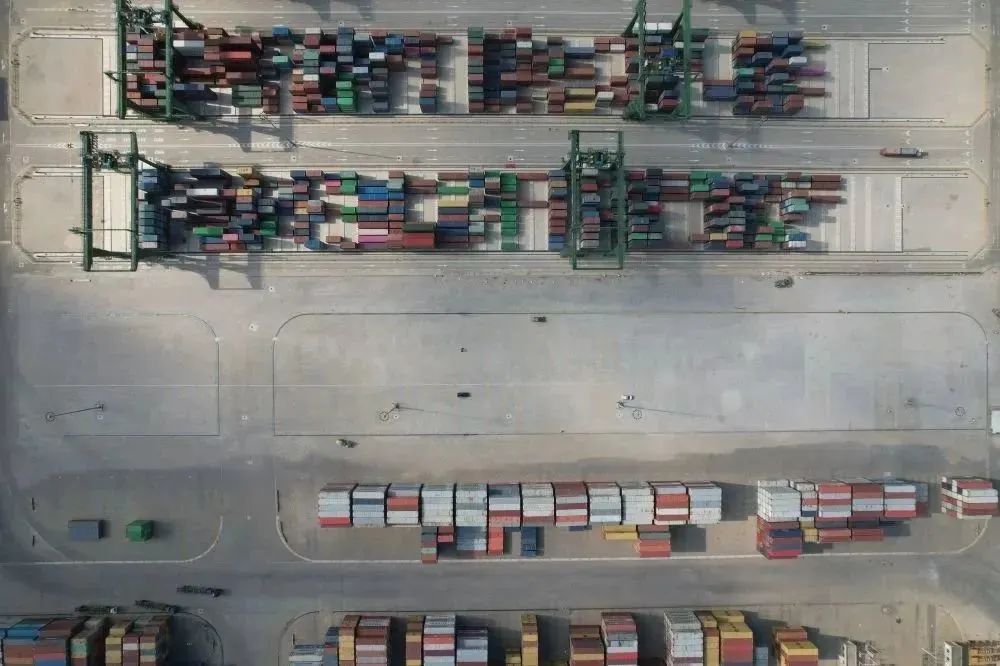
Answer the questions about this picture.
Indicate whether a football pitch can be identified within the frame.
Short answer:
No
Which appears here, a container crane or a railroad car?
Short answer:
container crane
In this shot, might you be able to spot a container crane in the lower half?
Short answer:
No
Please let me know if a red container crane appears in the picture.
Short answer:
No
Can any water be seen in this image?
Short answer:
No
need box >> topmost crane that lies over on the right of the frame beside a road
[619,0,694,123]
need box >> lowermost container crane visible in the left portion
[63,131,174,272]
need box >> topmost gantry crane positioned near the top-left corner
[96,0,206,123]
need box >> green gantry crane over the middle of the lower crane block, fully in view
[554,131,629,270]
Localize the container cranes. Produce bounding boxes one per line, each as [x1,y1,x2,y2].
[554,131,629,270]
[96,0,206,123]
[63,131,174,272]
[619,0,694,123]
